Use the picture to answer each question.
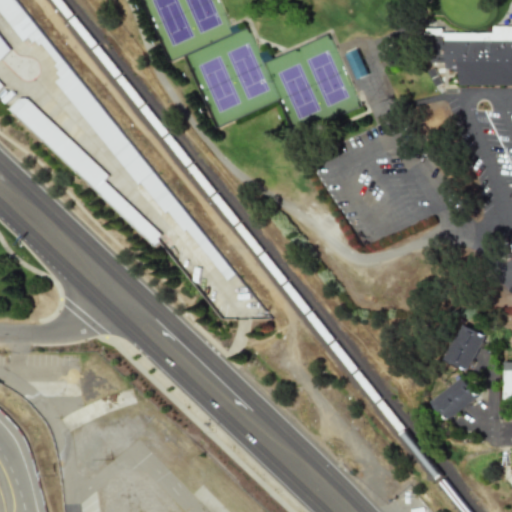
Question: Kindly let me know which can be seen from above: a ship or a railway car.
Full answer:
The one in the frame is a railway car.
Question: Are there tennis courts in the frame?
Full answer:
Yes, this view includes a tennis court.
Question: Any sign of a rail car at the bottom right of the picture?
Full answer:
Yes, a rail car appears at the bottom right of the picture.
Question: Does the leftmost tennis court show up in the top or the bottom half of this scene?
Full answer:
You can find the leftmost tennis court in the top half.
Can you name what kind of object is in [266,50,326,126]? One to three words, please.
tennis court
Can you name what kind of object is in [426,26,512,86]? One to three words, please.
building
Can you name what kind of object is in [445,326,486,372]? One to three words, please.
house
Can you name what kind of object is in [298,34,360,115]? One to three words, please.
tennis court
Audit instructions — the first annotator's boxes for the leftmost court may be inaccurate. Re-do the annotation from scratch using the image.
[147,0,198,60]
